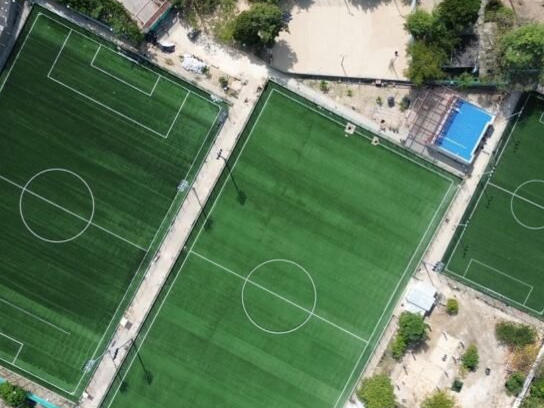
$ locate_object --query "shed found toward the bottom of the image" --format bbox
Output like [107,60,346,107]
[405,280,438,311]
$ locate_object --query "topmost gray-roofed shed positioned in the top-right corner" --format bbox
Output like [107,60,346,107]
[447,53,474,69]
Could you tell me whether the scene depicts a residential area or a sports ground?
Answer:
sports ground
